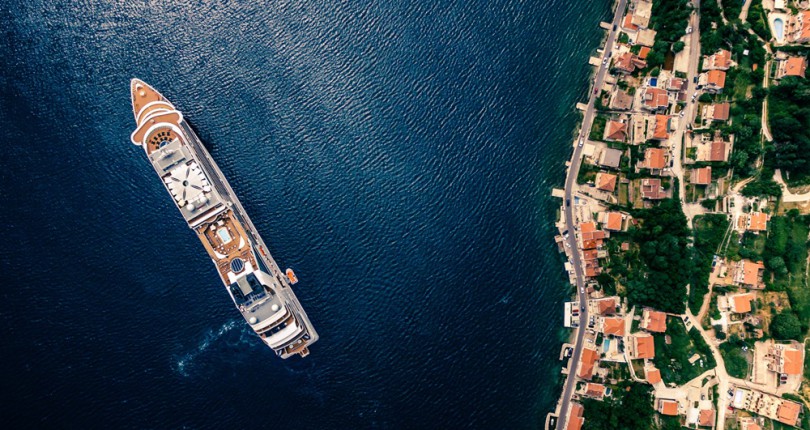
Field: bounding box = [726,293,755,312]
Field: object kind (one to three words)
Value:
house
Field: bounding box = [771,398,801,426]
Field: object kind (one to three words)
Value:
building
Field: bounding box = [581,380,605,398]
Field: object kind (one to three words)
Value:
house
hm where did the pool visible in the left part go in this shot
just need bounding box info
[215,228,232,246]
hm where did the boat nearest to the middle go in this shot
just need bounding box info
[286,266,300,281]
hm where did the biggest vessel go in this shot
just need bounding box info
[132,77,313,357]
